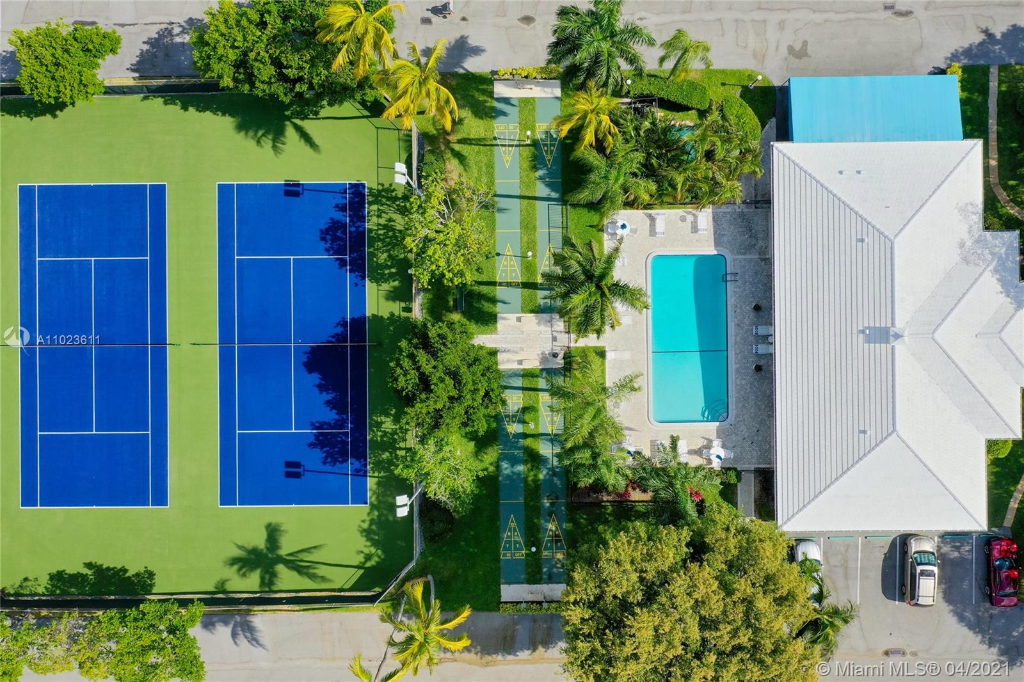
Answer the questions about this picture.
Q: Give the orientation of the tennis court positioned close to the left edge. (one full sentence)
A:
In this picture, the tennis court positioned close to the left edge lies up and down.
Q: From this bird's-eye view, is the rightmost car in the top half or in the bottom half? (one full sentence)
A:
Seen from above, the rightmost car lies in the bottom half of the view.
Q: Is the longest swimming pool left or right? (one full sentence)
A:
It is on the right.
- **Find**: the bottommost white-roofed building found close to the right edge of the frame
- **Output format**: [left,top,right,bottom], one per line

[769,138,1024,534]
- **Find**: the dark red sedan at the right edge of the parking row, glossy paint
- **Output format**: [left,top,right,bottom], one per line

[984,536,1022,606]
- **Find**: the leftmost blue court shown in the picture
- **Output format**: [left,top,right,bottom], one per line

[17,183,170,508]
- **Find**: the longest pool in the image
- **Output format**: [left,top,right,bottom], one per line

[644,247,736,430]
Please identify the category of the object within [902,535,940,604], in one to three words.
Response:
car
